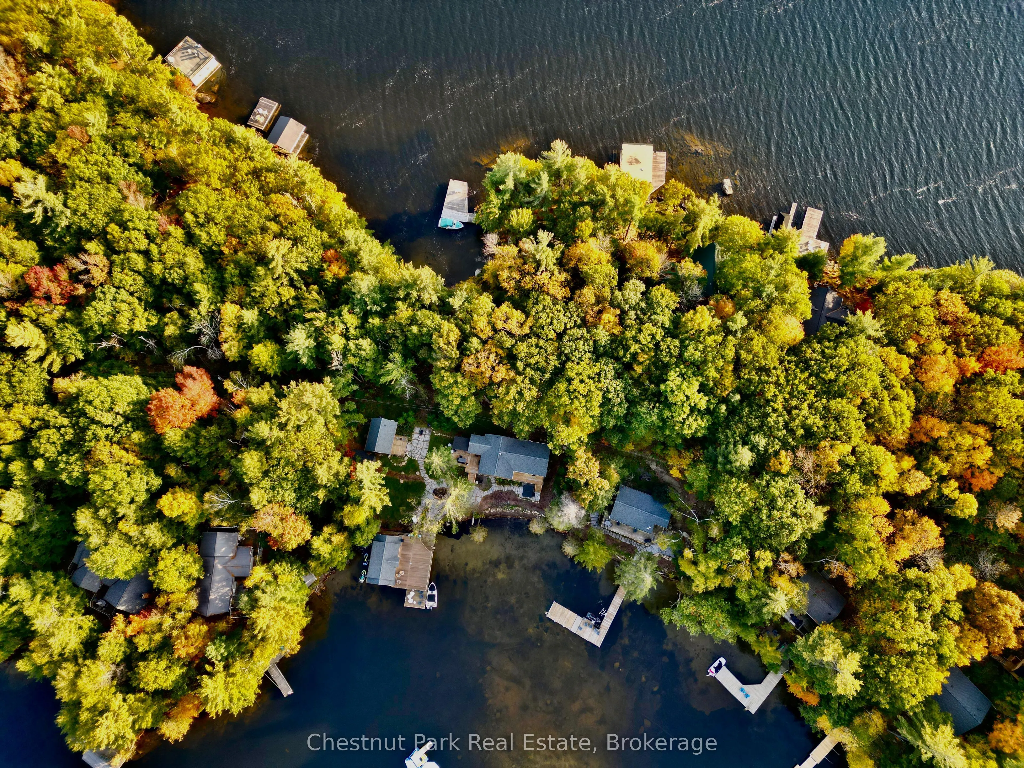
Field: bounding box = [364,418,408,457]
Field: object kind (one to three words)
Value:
house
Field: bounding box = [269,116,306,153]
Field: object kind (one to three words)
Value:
building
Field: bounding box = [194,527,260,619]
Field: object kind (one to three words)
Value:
house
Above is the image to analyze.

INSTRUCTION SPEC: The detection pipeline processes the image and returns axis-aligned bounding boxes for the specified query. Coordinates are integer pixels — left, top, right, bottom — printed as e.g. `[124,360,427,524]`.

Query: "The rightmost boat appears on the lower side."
[706,658,726,678]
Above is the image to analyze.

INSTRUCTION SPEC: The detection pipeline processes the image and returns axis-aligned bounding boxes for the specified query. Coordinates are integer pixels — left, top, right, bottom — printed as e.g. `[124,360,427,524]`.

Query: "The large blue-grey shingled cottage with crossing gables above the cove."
[451,434,551,492]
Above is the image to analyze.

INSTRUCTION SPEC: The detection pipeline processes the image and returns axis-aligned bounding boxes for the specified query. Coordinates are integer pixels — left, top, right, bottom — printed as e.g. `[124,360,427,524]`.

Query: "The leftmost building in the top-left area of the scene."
[163,34,215,82]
